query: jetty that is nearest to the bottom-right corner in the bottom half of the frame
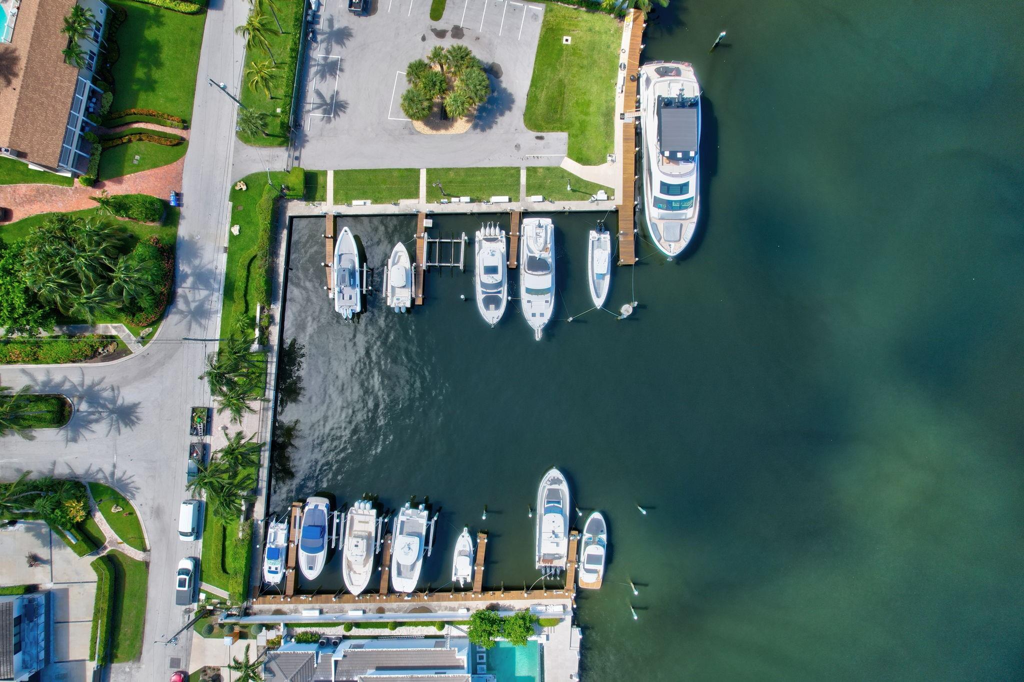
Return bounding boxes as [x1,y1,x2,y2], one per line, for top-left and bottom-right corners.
[565,531,578,592]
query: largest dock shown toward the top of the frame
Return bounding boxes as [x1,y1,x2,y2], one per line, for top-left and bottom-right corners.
[617,11,645,264]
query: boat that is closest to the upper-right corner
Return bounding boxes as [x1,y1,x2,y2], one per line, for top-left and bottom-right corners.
[639,59,701,259]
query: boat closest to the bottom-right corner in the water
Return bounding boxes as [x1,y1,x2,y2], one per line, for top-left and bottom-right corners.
[579,509,607,589]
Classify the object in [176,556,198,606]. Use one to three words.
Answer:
truck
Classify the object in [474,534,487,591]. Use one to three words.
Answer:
pier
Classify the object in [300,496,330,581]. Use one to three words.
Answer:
boat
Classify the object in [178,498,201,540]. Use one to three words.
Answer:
vehicle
